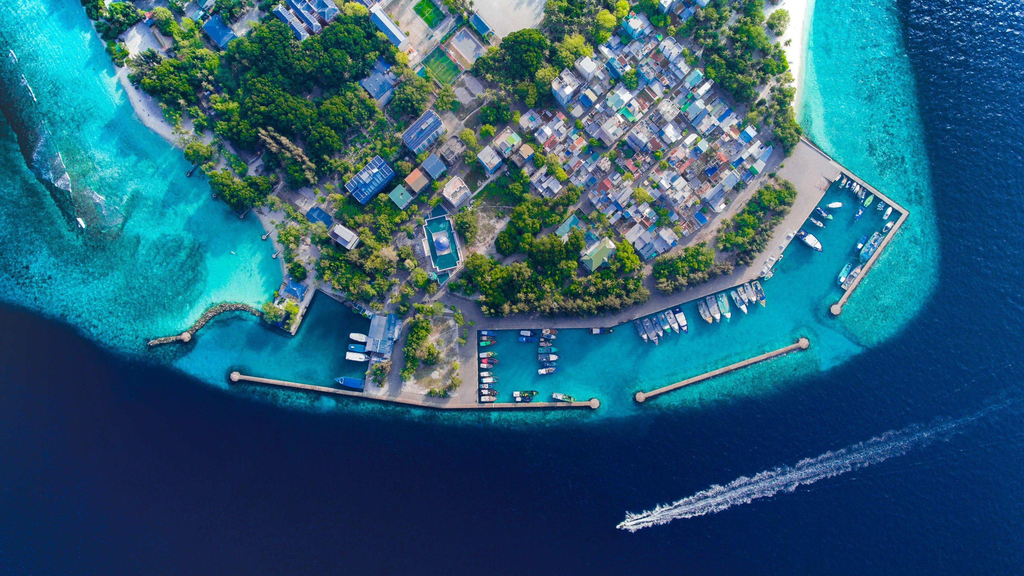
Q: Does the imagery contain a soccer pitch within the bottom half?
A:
No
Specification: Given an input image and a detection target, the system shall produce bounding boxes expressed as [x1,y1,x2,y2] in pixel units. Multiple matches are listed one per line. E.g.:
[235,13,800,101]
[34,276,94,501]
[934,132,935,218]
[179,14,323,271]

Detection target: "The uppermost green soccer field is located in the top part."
[409,0,449,33]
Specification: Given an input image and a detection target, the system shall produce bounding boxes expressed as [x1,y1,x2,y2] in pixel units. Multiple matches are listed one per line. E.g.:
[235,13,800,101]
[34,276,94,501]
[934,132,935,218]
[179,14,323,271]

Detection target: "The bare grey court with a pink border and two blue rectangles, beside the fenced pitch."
[450,27,487,64]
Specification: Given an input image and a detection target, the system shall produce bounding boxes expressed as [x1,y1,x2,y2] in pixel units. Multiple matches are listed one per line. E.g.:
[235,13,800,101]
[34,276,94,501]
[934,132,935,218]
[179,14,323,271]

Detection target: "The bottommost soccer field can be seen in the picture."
[421,43,466,87]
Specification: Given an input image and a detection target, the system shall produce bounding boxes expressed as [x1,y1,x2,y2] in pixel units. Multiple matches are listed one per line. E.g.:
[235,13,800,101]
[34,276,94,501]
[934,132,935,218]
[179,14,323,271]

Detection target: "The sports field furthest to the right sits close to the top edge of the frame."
[473,0,545,39]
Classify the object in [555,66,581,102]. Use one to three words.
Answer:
house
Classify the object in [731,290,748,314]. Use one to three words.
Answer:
boat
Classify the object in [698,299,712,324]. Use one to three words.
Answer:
boat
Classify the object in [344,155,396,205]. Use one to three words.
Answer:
building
